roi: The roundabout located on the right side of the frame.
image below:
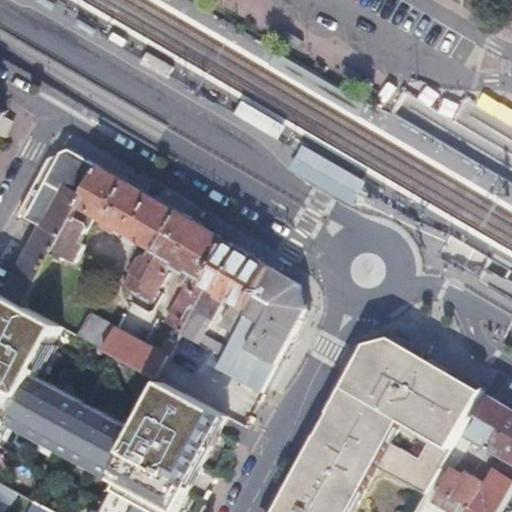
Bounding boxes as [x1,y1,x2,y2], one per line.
[350,251,386,288]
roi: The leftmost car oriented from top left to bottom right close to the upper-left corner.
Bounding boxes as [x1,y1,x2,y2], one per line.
[10,75,31,92]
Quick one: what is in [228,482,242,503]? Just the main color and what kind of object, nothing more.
gray car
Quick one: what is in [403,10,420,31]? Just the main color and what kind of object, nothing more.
white car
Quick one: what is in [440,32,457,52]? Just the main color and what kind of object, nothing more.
white car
